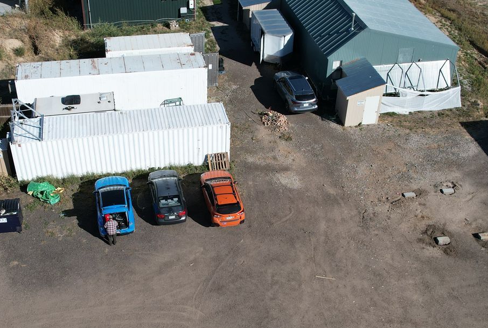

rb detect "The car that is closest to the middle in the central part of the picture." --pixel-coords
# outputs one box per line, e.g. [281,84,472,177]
[203,171,249,225]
